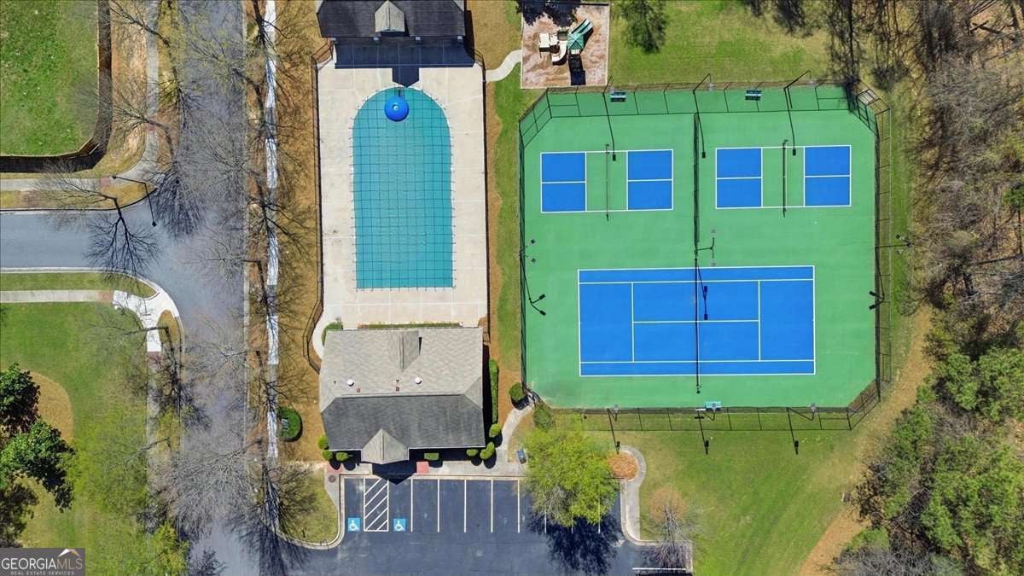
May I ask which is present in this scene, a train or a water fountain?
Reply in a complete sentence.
It is a water fountain that can be seen here.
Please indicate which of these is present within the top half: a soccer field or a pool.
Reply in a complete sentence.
Visible within the top half is a pool.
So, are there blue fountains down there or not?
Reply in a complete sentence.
Yes, looking at the shot, I can spot a blue fountain.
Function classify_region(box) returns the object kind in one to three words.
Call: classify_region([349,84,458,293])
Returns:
swimming pool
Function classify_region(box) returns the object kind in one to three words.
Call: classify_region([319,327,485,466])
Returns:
building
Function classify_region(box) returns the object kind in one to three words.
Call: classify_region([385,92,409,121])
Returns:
fountain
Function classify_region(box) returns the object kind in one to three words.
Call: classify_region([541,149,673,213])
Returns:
sports court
